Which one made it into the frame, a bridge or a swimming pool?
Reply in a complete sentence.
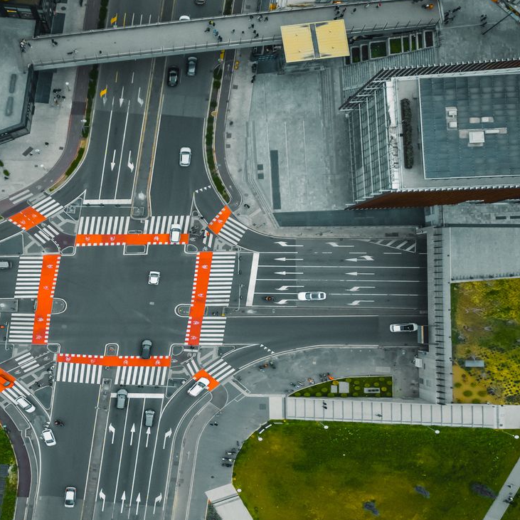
Looking from above, you can make out a bridge.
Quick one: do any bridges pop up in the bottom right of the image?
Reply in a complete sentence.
Yes, in the bottom right of the image there is a bridge.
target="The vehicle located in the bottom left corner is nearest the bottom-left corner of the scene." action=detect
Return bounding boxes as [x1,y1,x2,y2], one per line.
[63,488,77,509]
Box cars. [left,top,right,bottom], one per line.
[189,377,210,399]
[299,291,327,302]
[391,323,414,333]
[143,410,156,428]
[41,428,57,448]
[13,396,36,416]
[140,340,153,359]
[179,146,192,166]
[170,223,182,243]
[186,56,199,76]
[0,261,11,269]
[148,270,160,287]
[0,373,14,390]
[63,488,77,509]
[167,64,181,87]
[116,389,129,409]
